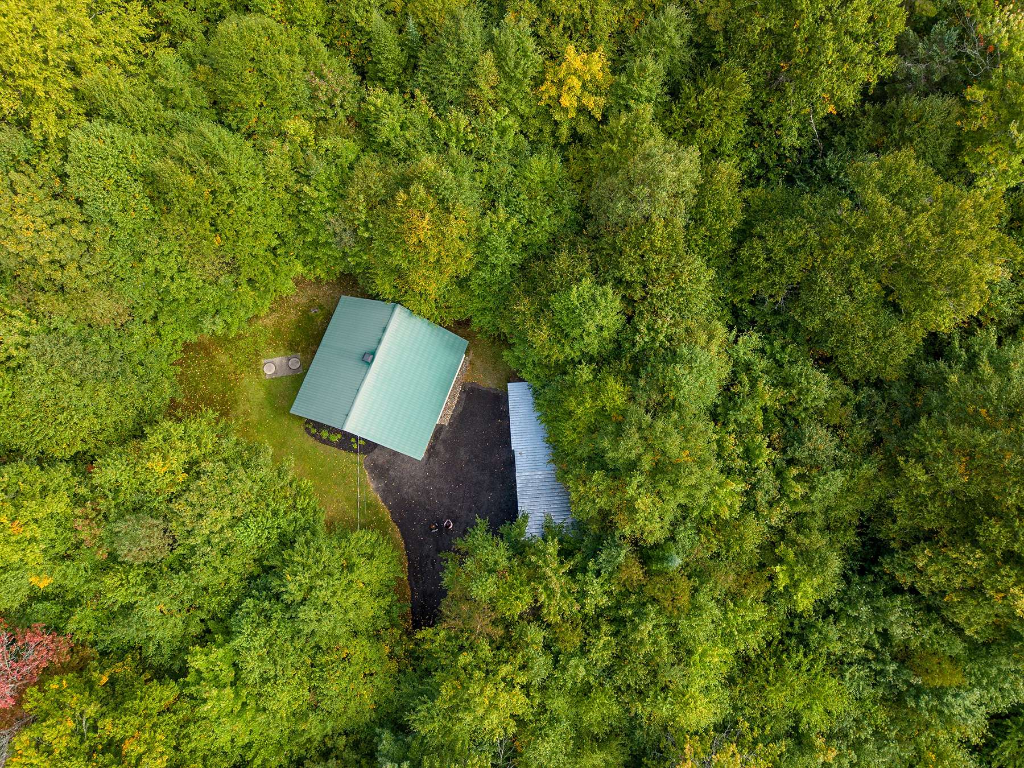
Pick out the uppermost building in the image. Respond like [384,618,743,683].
[291,295,469,462]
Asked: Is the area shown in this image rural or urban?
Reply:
rural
